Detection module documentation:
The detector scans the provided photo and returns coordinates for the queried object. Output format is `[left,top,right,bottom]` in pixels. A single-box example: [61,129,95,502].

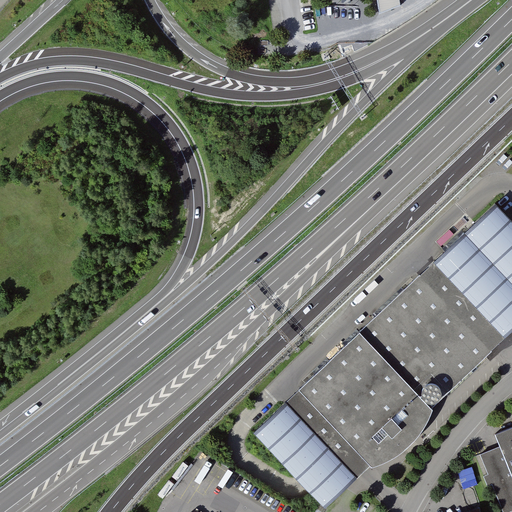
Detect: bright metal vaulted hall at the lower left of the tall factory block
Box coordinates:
[256,402,358,508]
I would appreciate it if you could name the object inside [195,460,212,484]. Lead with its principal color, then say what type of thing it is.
white vehicle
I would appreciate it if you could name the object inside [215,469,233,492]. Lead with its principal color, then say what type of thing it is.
white vehicle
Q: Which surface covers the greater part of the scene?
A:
paved ground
